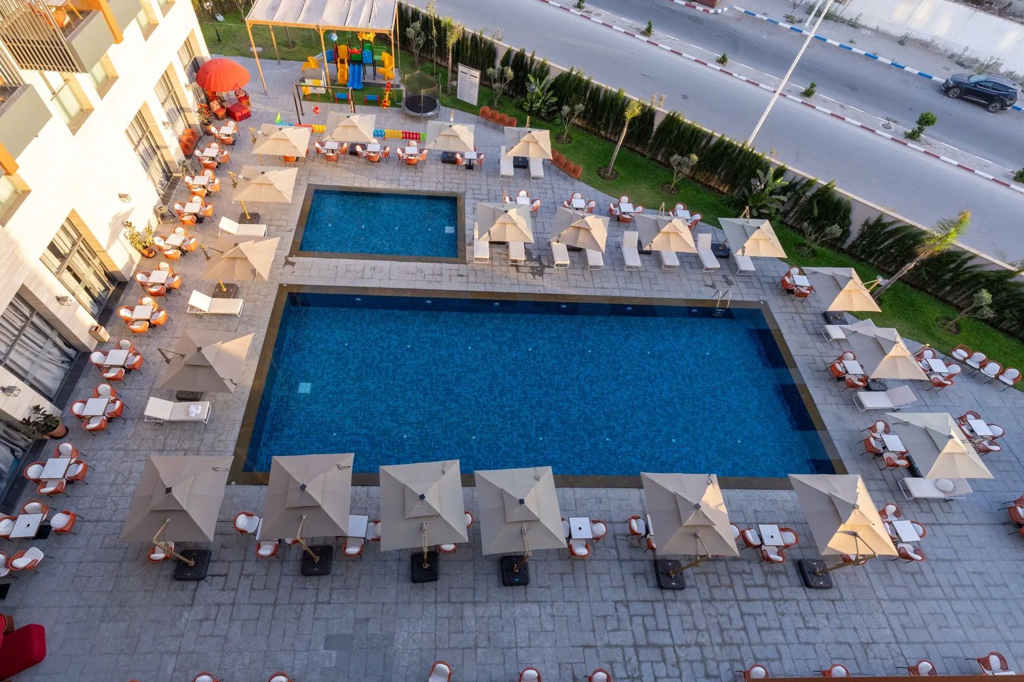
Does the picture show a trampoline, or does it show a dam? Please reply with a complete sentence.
Looking from above, you can make out a trampoline.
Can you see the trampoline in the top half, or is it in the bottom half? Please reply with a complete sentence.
The trampoline is in the top half of the image.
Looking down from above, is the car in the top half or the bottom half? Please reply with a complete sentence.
You can find the car in the top half.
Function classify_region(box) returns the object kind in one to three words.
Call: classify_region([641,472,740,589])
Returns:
umbrella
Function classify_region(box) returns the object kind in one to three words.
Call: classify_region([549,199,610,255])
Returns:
umbrella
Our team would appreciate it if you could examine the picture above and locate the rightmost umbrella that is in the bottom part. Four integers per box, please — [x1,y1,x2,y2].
[888,413,993,480]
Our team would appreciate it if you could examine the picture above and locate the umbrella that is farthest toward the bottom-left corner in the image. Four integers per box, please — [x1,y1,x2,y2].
[118,457,233,580]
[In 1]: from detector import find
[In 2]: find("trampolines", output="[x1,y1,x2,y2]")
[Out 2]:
[400,73,441,125]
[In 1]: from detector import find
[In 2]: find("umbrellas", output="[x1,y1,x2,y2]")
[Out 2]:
[839,327,929,389]
[476,191,535,245]
[800,267,882,325]
[504,116,553,168]
[641,472,740,589]
[381,462,470,582]
[118,457,233,580]
[199,235,279,300]
[229,166,296,223]
[888,413,993,480]
[426,110,475,162]
[250,123,312,167]
[475,467,569,586]
[790,476,898,588]
[258,455,354,577]
[322,101,376,154]
[712,205,788,259]
[194,62,256,108]
[633,202,698,253]
[549,199,610,255]
[156,329,253,402]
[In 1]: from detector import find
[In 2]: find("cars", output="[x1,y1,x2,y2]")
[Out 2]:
[944,72,1024,111]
